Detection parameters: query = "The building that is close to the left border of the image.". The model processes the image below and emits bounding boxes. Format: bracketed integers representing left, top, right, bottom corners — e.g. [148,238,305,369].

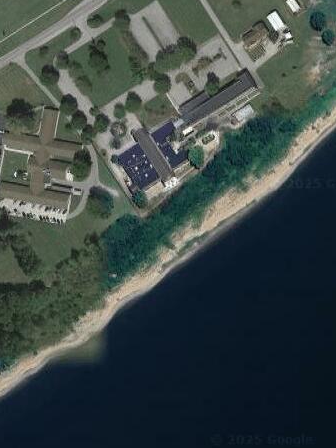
[0,108,82,207]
